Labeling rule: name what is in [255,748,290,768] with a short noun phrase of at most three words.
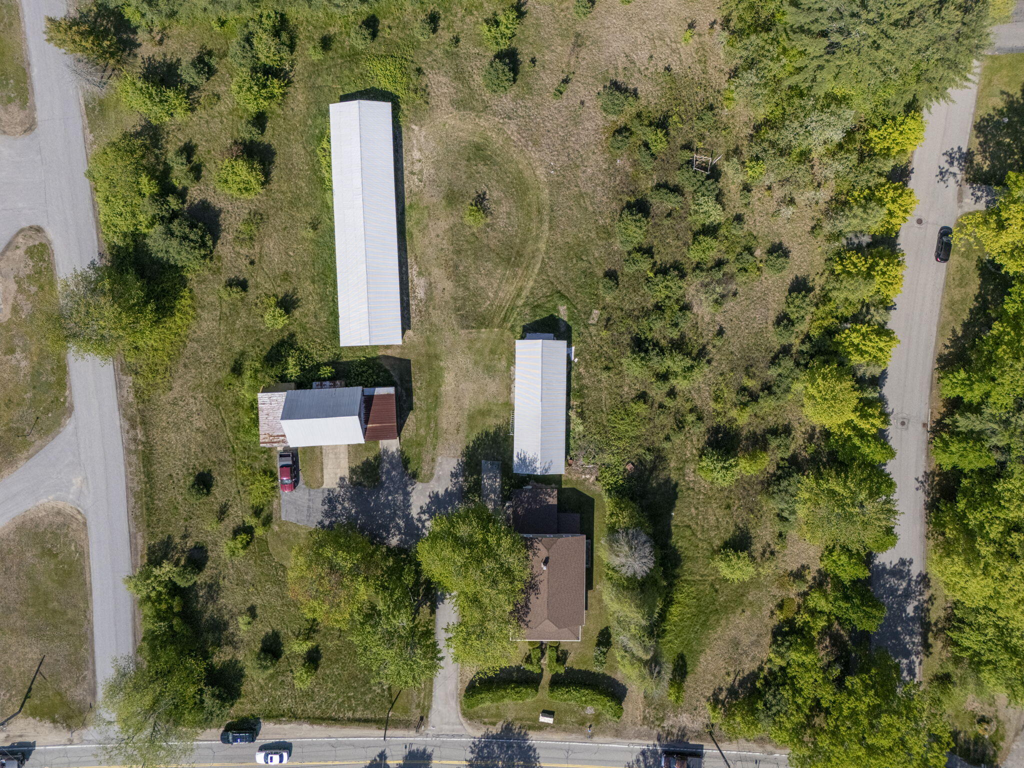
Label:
car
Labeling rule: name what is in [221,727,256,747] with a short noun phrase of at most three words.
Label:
car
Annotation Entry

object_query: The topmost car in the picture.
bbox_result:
[934,226,955,262]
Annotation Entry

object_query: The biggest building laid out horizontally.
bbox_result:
[257,381,402,448]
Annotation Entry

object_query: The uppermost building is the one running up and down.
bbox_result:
[330,99,405,346]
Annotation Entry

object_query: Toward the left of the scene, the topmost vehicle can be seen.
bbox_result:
[278,449,298,493]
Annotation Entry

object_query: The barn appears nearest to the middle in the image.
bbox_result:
[513,333,575,476]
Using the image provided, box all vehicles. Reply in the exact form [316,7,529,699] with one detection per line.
[255,748,290,768]
[659,752,703,768]
[221,727,256,747]
[278,449,298,493]
[934,226,955,262]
